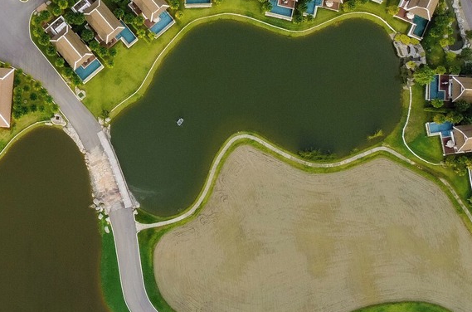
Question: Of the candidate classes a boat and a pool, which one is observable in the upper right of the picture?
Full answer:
The one visible in the upper right of the picture is a pool.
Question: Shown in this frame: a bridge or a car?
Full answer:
It is a bridge that can be seen here.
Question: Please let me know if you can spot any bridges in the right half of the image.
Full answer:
No, the scene shows no bridge in the right half of the image.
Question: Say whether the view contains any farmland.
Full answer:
Yes, farmland shows up in the scene.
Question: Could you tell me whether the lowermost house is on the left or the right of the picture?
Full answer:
The lowermost house is on the right side of the image.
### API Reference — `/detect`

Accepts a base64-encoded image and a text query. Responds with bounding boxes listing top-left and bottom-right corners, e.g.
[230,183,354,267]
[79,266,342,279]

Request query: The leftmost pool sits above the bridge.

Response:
[76,58,105,84]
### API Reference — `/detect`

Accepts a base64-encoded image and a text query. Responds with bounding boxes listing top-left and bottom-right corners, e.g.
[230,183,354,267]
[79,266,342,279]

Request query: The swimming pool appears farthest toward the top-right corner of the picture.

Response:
[406,13,432,39]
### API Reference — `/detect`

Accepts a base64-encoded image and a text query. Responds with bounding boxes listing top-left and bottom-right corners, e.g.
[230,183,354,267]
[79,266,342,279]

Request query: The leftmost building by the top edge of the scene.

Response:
[41,16,98,70]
